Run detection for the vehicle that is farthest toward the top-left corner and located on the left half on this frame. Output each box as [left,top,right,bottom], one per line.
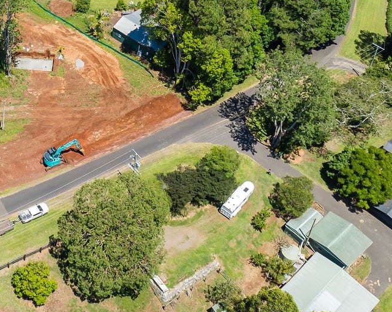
[41,133,89,168]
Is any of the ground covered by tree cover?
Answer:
Yes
